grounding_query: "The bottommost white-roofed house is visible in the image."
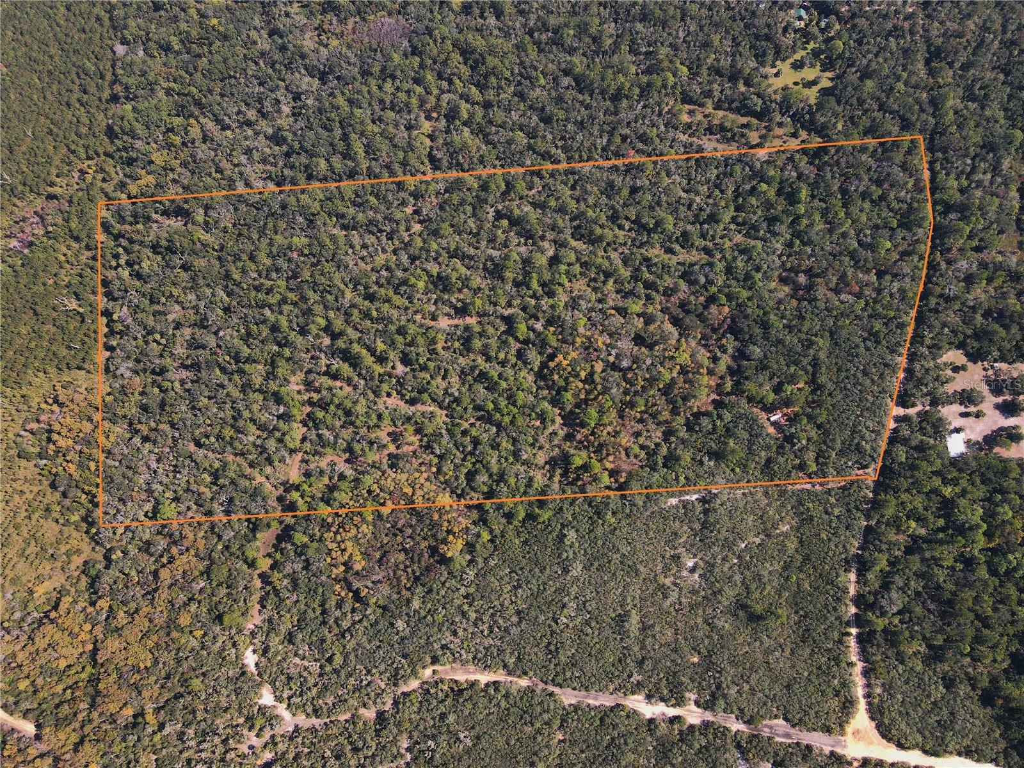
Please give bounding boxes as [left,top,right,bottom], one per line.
[940,432,968,457]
